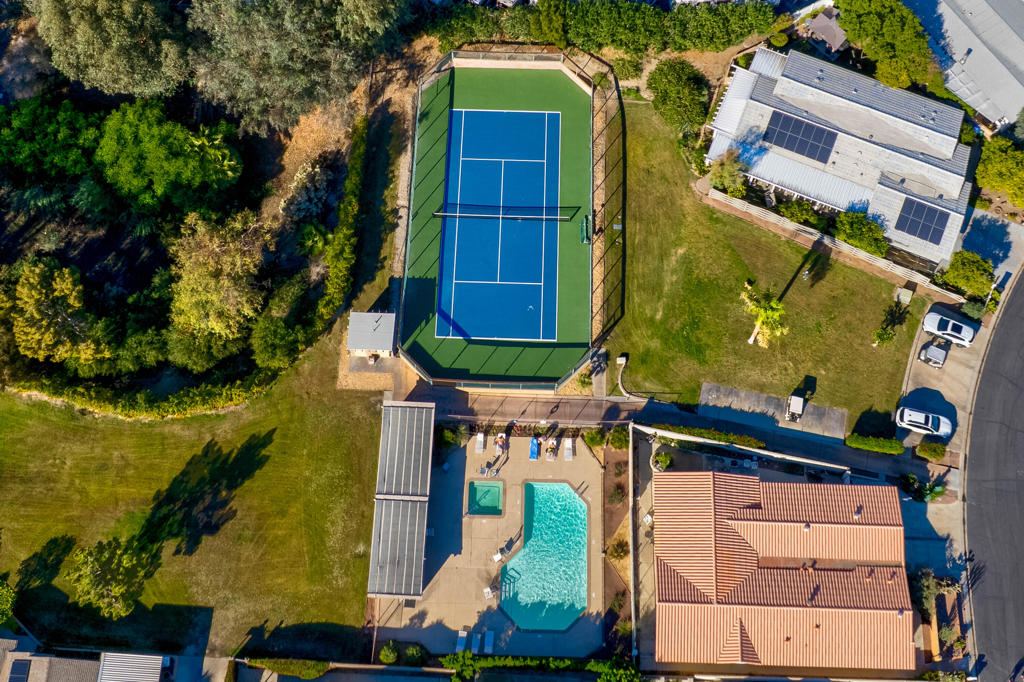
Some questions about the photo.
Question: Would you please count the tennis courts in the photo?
1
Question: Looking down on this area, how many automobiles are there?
2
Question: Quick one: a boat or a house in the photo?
house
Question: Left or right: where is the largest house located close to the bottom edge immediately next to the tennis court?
right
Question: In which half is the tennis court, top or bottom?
top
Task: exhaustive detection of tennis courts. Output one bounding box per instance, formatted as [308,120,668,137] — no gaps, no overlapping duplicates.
[397,58,593,396]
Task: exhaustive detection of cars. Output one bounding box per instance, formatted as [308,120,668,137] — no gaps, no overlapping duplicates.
[921,312,977,347]
[894,407,953,441]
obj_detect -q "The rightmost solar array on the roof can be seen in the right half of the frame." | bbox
[893,196,952,246]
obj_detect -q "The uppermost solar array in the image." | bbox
[762,108,840,164]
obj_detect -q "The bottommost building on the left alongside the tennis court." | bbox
[364,399,436,599]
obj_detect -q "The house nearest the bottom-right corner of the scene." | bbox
[653,472,917,670]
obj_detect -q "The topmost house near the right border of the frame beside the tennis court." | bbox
[702,45,973,264]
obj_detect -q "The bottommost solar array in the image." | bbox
[9,661,32,682]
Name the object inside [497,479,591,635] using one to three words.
swimming pool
